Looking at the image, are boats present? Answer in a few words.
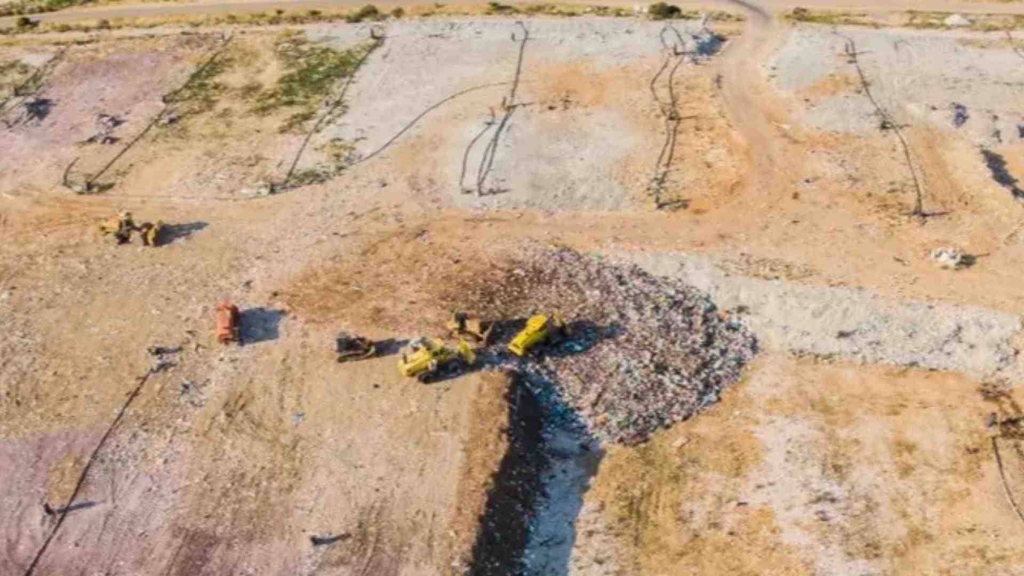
No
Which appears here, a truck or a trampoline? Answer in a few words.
truck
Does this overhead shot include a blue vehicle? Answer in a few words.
No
